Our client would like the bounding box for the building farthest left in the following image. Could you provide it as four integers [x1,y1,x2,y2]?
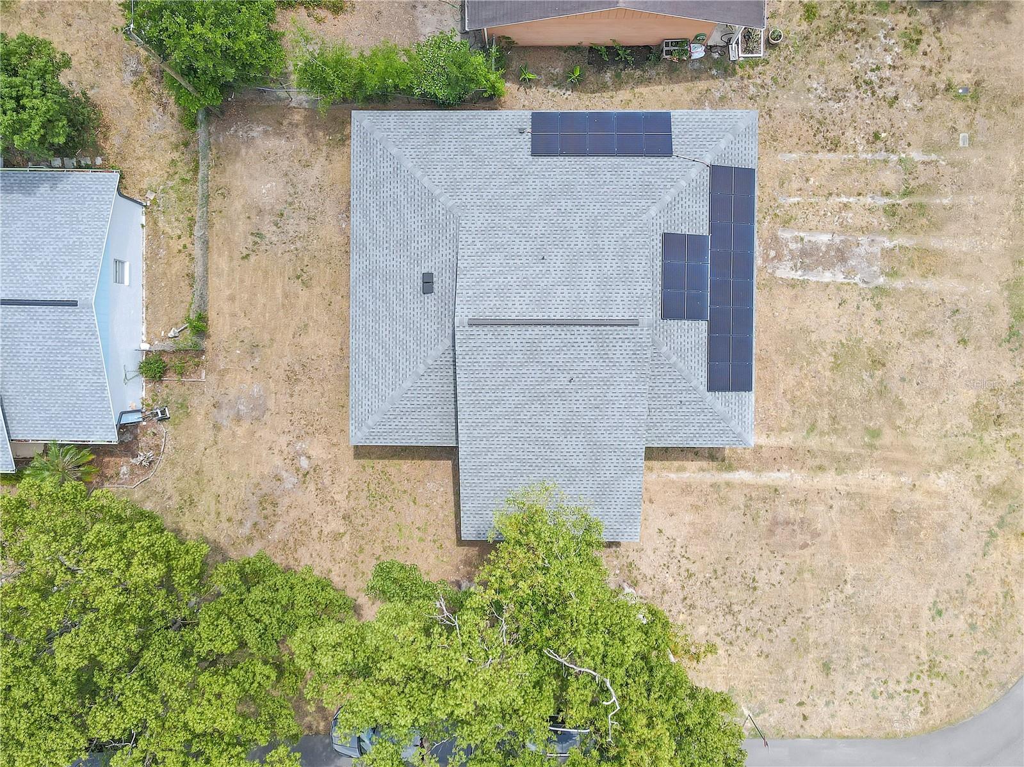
[0,168,149,477]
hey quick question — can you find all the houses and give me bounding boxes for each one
[465,0,768,54]
[348,107,758,541]
[0,168,149,477]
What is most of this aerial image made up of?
grass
